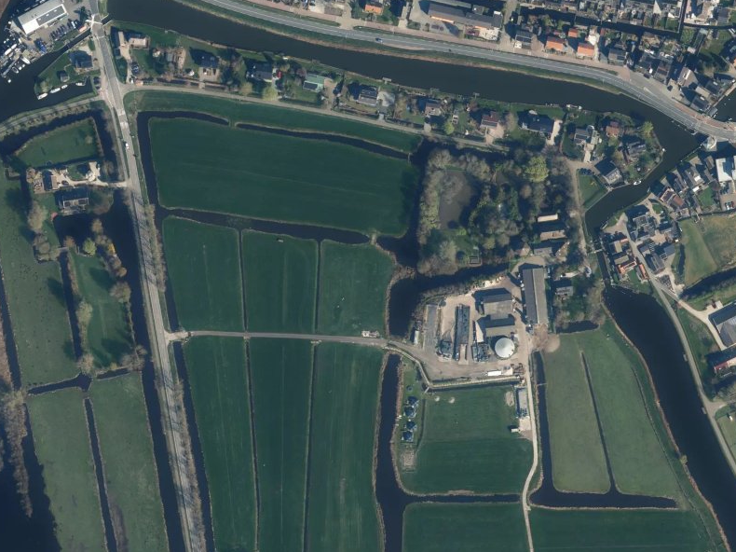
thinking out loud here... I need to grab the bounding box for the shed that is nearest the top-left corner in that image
[17,0,69,36]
